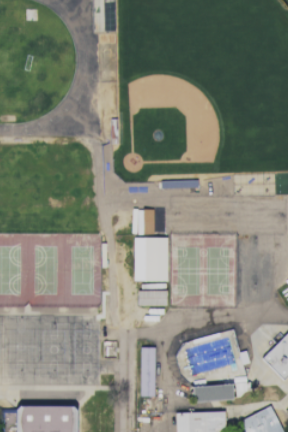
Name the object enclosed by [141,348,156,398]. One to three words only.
shed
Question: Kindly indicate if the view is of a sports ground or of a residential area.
sports ground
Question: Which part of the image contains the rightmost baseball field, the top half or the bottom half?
top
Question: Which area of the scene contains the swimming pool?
bottom right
